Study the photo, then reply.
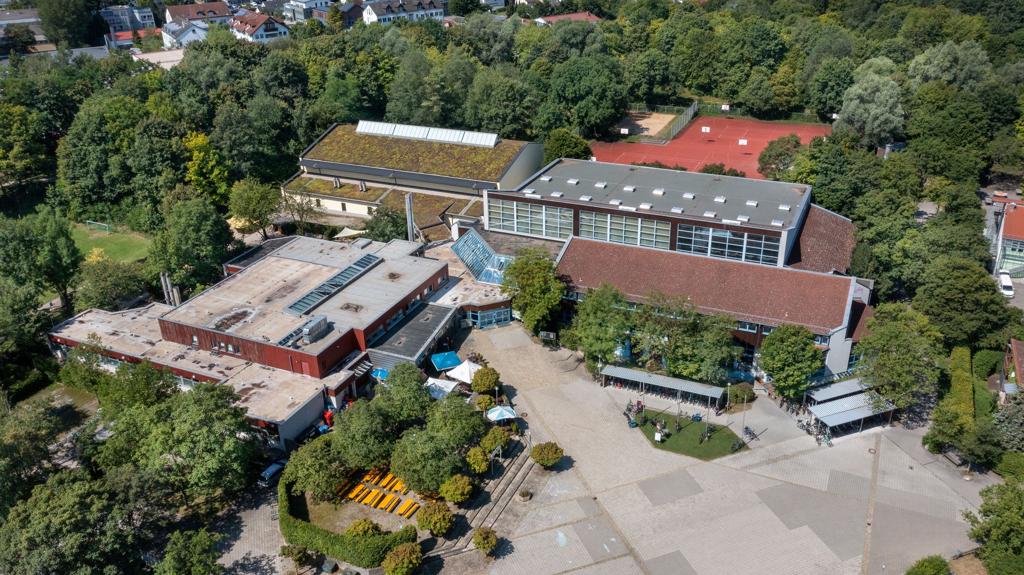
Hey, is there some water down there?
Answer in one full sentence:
No, no water is visible.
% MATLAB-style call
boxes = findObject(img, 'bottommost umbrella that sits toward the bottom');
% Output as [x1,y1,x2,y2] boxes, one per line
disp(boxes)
[483,406,518,430]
